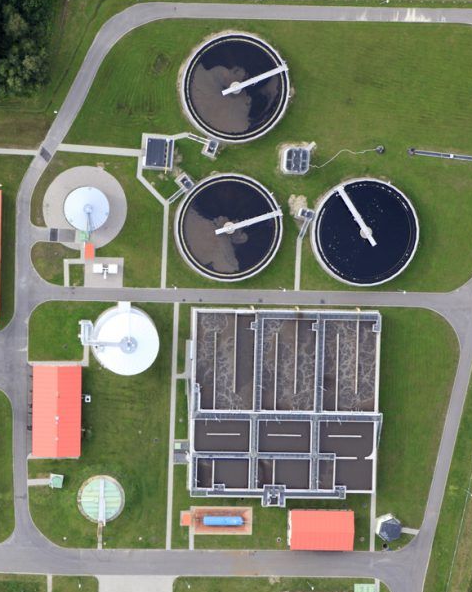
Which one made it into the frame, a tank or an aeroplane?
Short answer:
tank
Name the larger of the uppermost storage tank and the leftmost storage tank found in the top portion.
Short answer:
the uppermost storage tank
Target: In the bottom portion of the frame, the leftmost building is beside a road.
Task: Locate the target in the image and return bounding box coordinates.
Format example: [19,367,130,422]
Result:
[29,366,85,458]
